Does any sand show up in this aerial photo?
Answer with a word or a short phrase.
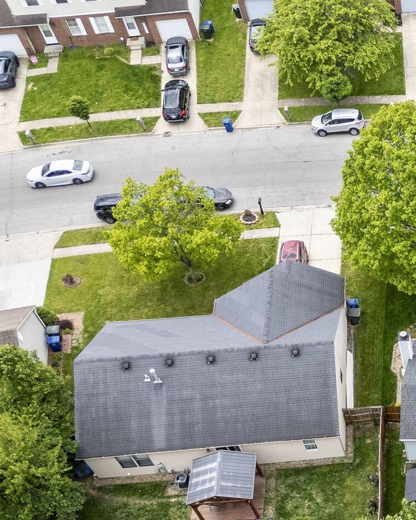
No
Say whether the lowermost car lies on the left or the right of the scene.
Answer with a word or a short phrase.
right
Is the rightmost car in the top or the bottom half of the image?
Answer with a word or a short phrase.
top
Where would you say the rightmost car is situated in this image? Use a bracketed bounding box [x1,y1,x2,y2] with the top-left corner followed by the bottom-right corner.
[310,106,367,137]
